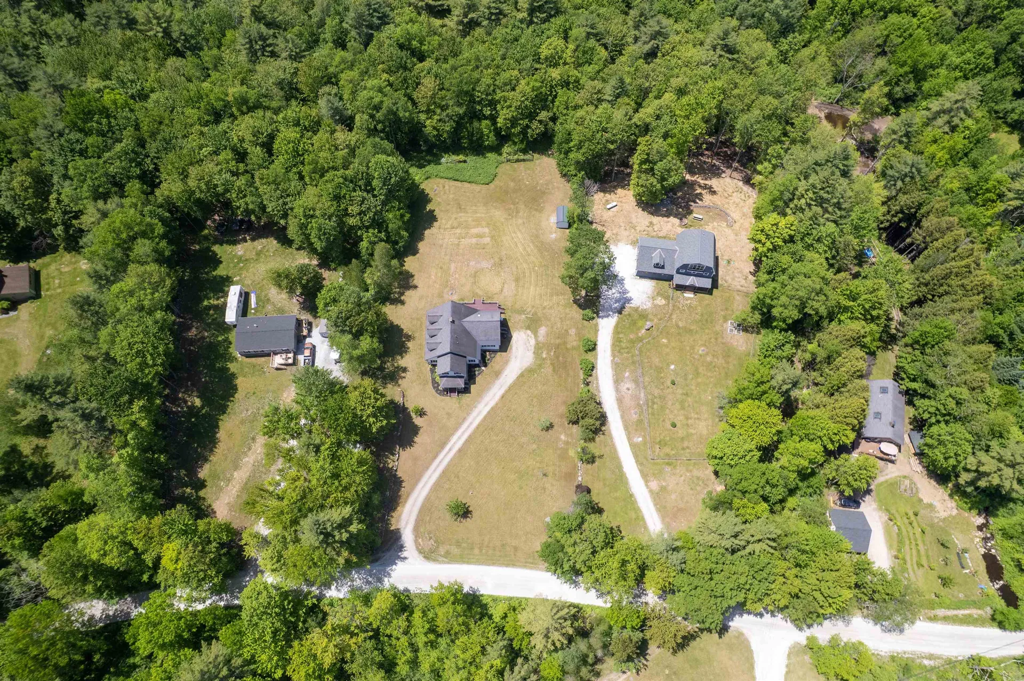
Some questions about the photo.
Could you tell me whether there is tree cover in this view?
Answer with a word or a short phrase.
Yes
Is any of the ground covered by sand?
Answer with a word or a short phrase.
No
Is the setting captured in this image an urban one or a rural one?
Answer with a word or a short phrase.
rural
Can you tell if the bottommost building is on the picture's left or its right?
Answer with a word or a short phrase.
right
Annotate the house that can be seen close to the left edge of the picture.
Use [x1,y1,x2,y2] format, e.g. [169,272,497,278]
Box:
[0,262,39,303]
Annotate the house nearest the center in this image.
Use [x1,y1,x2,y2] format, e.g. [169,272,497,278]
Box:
[424,297,508,396]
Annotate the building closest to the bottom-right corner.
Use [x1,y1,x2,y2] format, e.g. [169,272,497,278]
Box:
[826,508,873,555]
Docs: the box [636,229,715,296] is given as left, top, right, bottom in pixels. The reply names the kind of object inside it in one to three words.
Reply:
house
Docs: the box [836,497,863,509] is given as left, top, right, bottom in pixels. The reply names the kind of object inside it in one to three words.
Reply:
vehicle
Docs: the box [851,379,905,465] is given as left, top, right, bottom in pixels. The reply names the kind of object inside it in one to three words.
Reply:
building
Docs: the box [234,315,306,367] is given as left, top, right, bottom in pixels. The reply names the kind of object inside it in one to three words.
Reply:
house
